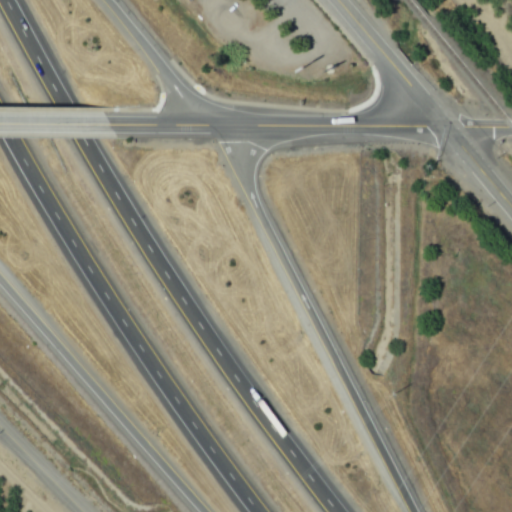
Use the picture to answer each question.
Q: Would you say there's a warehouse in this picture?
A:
No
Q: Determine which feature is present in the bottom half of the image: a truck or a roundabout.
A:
truck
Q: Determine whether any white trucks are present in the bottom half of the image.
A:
Yes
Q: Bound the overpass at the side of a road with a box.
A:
[0,106,119,138]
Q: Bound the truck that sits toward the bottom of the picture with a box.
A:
[252,388,288,438]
